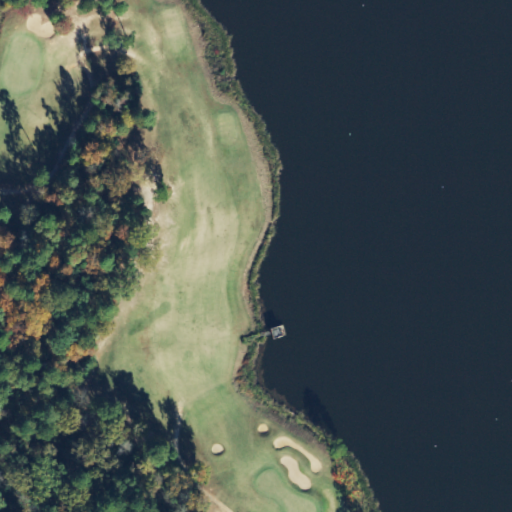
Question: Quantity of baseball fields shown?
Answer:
0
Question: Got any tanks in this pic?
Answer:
No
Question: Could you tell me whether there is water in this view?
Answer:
Yes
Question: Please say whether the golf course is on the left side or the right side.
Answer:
left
